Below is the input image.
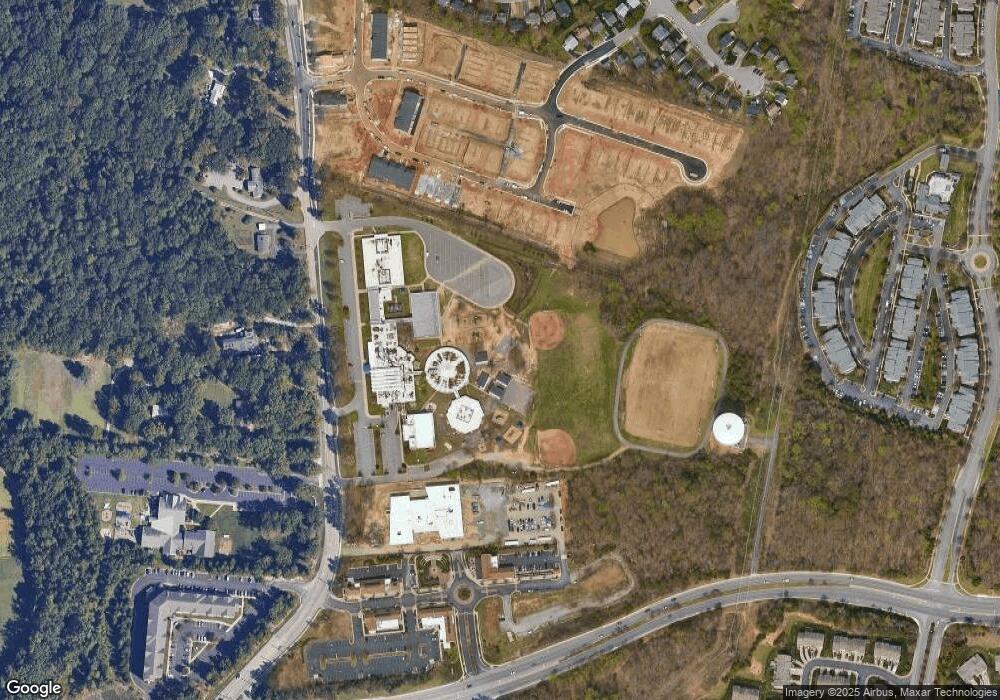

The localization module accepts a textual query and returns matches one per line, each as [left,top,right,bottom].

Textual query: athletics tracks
[613,318,729,456]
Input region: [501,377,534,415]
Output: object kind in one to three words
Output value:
sports court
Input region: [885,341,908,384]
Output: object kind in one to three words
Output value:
building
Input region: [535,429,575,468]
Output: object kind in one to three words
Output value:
baseball field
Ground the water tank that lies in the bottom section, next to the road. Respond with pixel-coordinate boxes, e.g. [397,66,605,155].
[713,414,746,446]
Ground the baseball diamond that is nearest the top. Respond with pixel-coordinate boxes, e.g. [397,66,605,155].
[530,311,564,350]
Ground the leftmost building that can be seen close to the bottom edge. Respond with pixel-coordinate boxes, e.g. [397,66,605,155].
[144,590,241,683]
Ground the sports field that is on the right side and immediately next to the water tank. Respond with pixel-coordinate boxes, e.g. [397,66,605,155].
[625,325,721,446]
